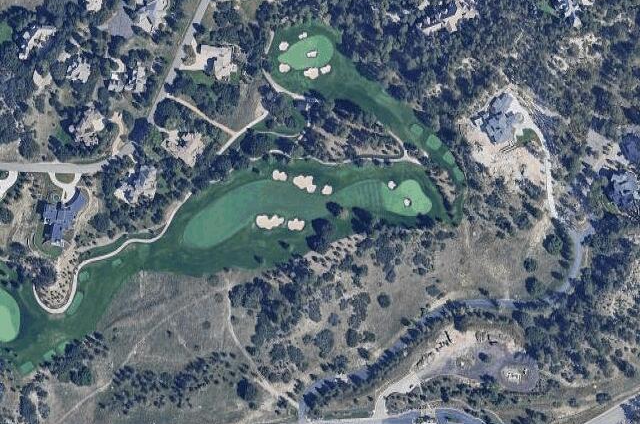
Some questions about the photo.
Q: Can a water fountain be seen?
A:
No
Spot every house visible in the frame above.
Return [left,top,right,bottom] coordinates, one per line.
[66,59,93,86]
[161,128,208,169]
[128,63,148,92]
[204,41,237,78]
[608,171,640,205]
[86,0,103,12]
[122,164,159,203]
[72,105,106,145]
[558,0,593,20]
[136,0,172,34]
[108,73,123,93]
[421,6,463,35]
[41,191,91,240]
[485,90,521,147]
[21,23,57,59]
